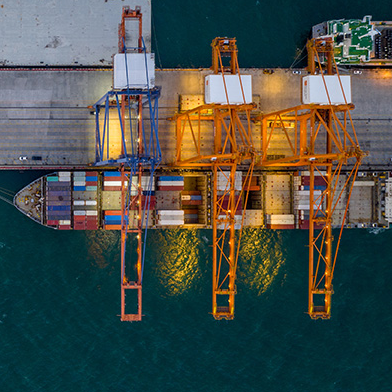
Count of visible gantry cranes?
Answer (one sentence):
The photo contains 3 gantry cranes.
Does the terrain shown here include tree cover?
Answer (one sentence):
No, the picture contains no tree cover.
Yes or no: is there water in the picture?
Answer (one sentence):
Yes, there is water in the image.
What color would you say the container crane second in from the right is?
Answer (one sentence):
The container crane second in from the right looks orange in the image.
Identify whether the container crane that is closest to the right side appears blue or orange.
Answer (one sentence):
The container crane that is closest to the right side looks orange in the image.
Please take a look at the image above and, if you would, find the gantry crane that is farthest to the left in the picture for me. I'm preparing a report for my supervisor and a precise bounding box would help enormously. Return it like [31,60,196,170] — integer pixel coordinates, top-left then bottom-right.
[87,10,160,322]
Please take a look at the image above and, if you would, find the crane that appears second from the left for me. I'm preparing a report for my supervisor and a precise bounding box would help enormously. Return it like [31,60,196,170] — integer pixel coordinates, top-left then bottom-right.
[169,30,266,323]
